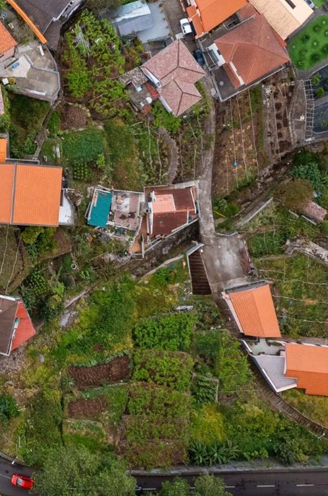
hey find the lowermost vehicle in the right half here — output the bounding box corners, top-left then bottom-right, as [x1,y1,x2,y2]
[194,45,207,67]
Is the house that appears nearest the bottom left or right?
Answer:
right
